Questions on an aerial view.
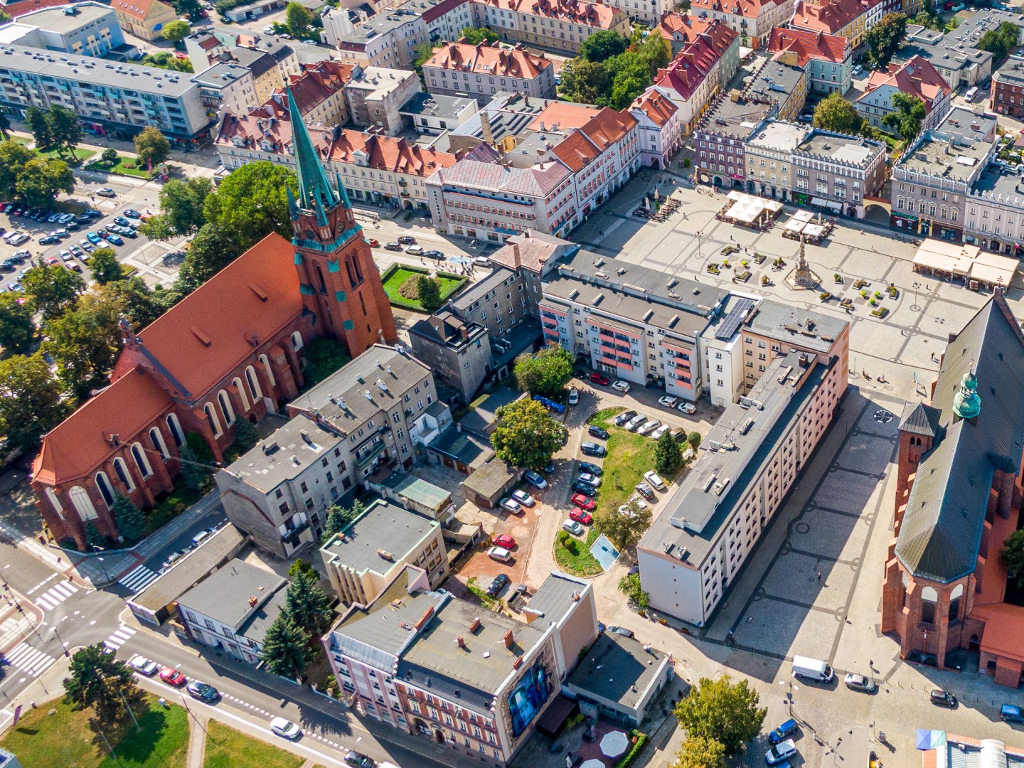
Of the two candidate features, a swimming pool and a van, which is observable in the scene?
van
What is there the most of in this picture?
buildings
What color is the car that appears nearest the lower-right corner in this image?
blue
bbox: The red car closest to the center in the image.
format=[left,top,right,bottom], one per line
[587,372,609,385]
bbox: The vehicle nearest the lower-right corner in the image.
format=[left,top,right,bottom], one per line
[997,702,1024,724]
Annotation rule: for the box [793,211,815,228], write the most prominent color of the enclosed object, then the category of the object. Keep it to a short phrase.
white umbrella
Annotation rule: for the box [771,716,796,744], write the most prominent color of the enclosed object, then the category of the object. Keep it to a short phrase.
blue car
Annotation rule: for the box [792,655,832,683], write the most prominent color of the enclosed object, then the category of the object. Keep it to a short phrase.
white van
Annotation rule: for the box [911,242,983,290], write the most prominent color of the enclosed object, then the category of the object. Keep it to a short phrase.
white tent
